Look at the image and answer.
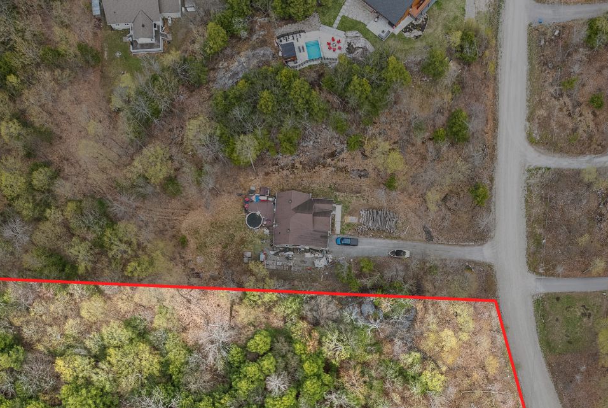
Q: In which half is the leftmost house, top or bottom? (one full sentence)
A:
Seen from above, the leftmost house lies in the top half of the view.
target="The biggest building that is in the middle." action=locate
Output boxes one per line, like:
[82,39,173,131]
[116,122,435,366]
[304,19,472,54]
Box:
[248,190,336,249]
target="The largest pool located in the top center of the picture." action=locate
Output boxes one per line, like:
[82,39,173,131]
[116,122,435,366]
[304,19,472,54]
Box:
[304,39,322,61]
